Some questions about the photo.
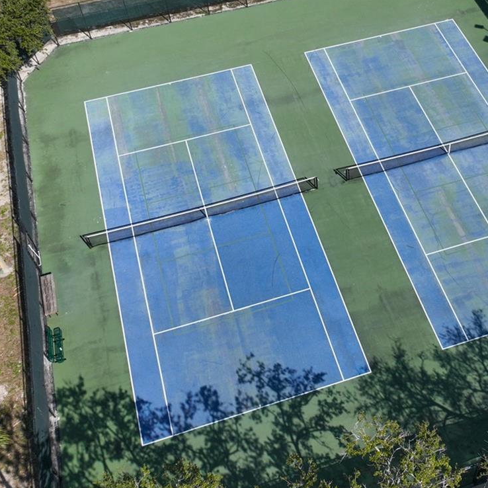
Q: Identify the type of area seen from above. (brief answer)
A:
sports ground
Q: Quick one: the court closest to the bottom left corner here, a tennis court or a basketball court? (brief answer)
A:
tennis court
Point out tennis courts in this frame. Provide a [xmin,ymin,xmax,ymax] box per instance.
[305,20,488,348]
[86,64,370,444]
